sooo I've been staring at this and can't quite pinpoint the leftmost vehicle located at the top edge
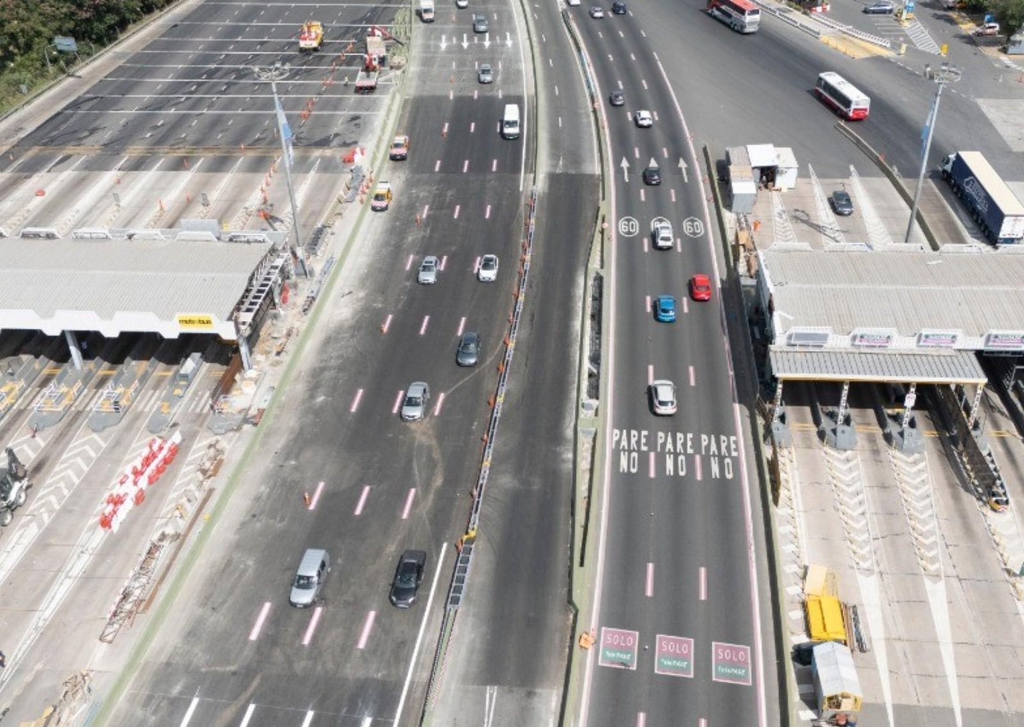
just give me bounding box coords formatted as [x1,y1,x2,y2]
[299,12,330,48]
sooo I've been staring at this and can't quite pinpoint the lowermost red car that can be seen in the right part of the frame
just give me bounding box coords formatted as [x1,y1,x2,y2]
[690,272,713,298]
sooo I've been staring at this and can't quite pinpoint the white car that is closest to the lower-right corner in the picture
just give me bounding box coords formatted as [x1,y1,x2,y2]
[652,374,680,412]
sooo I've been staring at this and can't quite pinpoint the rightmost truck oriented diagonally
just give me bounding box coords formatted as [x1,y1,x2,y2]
[947,148,1024,247]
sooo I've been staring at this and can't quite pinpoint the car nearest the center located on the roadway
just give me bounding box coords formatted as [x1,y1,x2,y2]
[457,329,484,364]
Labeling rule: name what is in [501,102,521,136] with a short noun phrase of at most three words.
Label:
vehicle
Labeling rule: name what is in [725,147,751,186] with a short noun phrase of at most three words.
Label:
building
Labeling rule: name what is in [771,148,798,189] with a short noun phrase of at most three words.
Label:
building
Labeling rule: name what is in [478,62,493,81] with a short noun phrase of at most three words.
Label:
car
